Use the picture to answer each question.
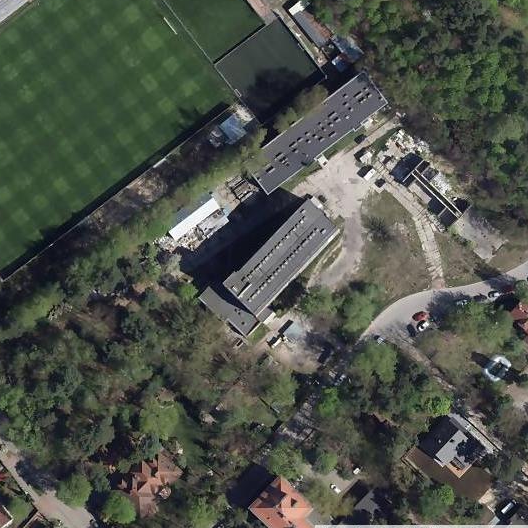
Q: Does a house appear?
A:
Yes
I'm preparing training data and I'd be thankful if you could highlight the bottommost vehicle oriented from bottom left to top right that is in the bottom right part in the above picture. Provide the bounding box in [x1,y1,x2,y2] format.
[499,500,516,514]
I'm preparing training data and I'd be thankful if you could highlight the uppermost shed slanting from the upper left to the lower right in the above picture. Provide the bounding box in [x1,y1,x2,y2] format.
[294,4,331,48]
